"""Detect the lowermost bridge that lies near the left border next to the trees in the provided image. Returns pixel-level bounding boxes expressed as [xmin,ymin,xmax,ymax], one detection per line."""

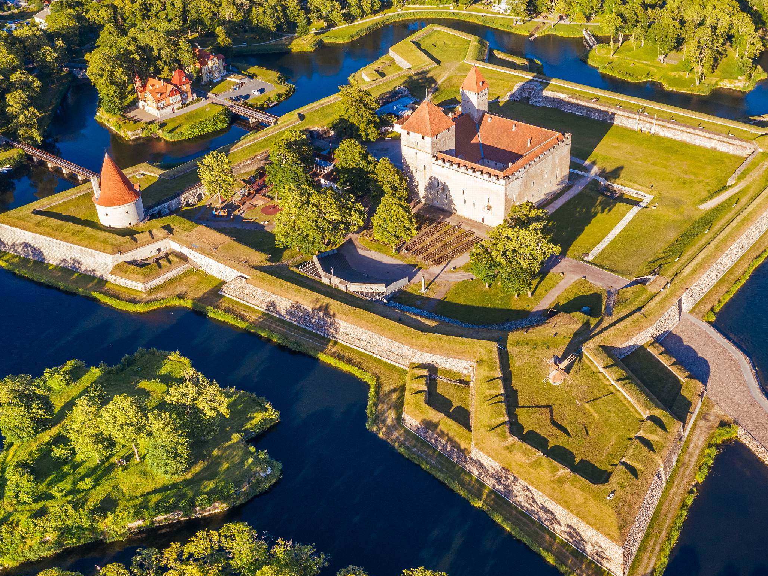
[1,137,100,184]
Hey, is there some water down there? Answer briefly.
Yes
